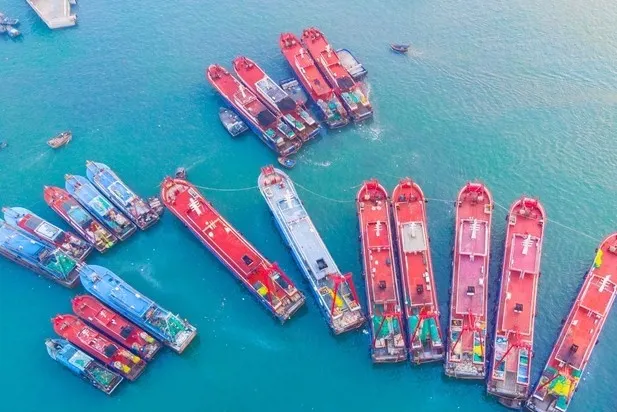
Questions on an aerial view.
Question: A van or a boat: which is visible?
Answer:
boat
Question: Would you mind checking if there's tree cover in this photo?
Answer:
No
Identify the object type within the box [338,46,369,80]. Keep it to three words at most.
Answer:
boat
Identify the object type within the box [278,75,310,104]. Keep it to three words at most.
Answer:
boat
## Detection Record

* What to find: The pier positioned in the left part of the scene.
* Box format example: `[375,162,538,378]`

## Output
[25,0,81,31]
